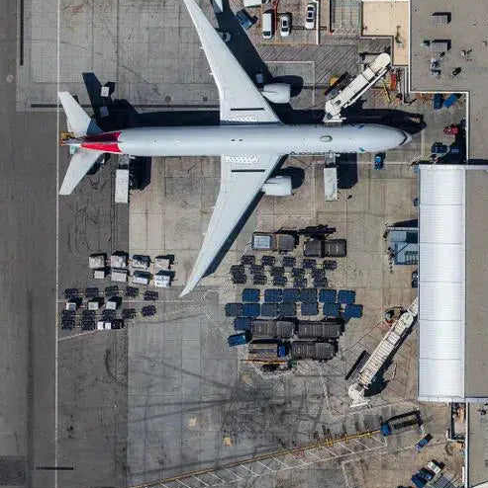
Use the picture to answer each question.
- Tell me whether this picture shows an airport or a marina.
airport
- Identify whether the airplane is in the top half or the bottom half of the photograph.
top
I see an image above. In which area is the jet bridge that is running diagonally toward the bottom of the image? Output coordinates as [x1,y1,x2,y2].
[345,296,418,410]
